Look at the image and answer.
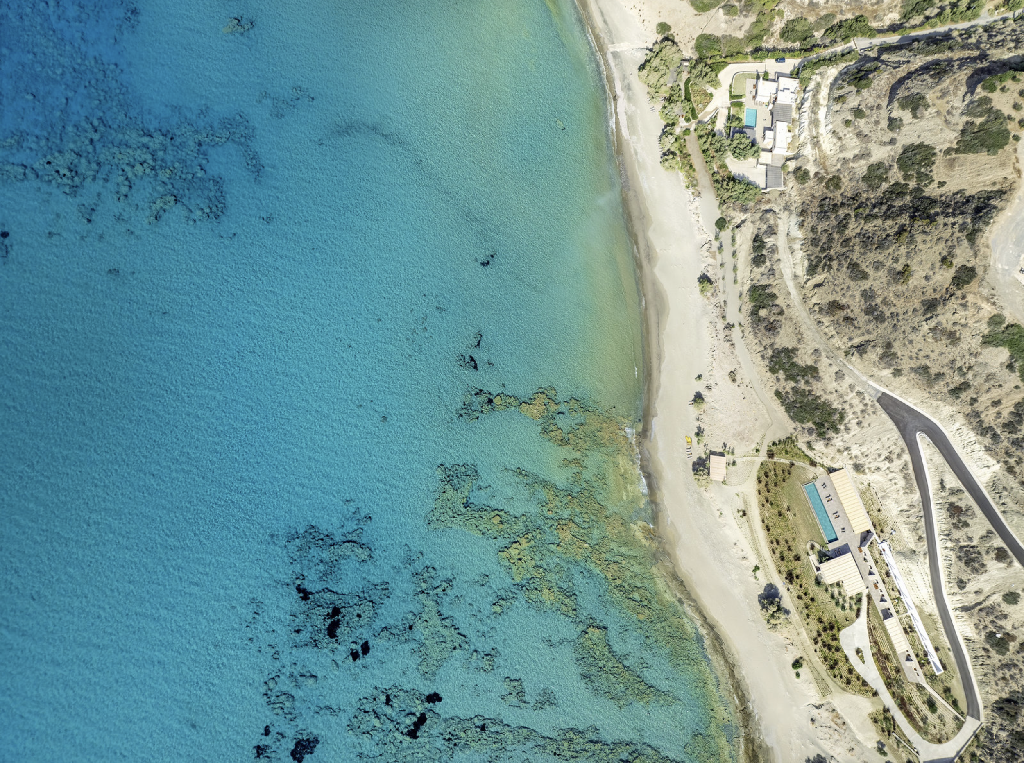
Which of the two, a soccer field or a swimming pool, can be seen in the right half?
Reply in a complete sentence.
The one visible in the right half is a swimming pool.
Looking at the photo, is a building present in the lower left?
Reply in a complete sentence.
No, I can find no building in the lower left.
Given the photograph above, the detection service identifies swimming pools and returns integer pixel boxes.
[745,107,758,128]
[802,481,840,544]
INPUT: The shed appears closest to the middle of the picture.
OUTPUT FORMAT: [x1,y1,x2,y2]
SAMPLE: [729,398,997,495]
[708,455,726,481]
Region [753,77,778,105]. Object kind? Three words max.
house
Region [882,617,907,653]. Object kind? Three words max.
building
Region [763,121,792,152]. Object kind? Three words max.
house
